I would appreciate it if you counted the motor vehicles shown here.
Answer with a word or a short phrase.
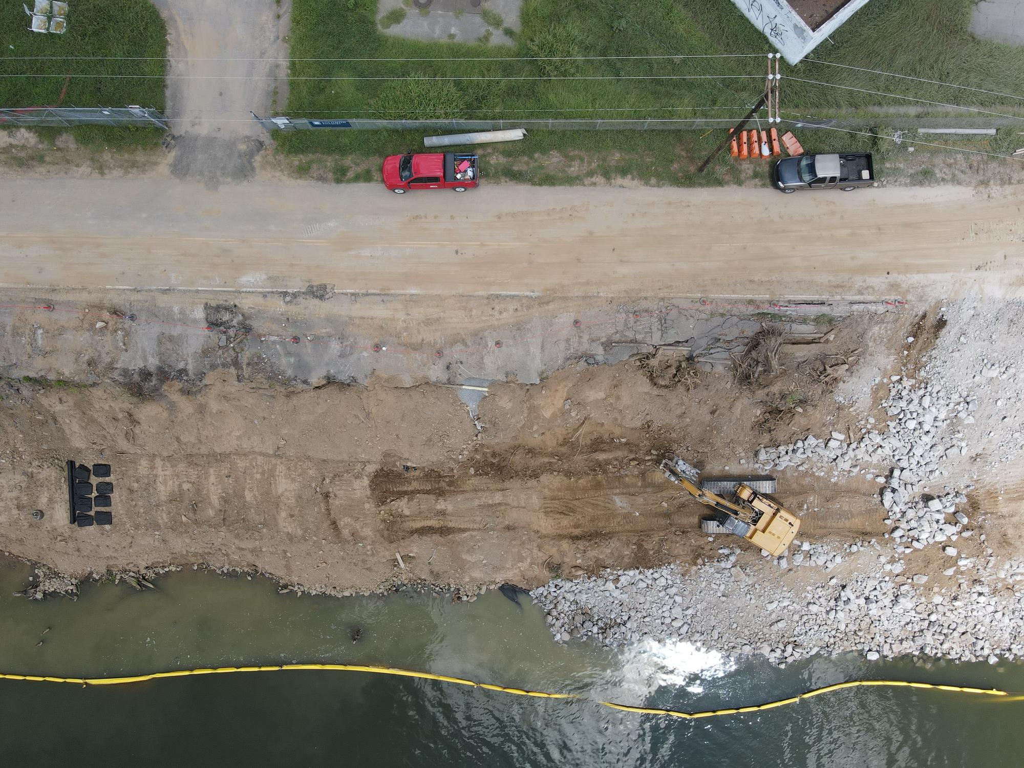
3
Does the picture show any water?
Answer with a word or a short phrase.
Yes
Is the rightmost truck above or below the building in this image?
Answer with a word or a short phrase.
below it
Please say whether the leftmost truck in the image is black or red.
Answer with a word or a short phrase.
red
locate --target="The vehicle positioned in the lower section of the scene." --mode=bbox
[659,452,800,556]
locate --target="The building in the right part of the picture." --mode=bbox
[733,0,862,62]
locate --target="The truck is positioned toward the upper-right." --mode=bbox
[771,149,875,194]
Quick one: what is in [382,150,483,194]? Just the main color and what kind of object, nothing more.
red truck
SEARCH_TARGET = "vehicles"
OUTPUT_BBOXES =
[659,452,800,556]
[771,149,875,194]
[382,150,483,194]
